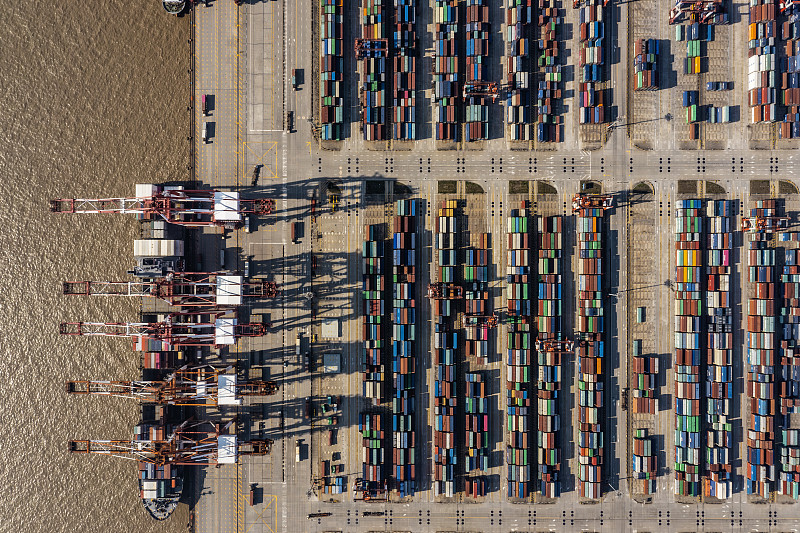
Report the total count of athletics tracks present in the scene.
0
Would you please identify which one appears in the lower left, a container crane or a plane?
container crane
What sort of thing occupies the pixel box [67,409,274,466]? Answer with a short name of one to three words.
container crane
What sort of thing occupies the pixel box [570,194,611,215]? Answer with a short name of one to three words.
crane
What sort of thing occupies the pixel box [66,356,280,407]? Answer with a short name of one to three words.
container crane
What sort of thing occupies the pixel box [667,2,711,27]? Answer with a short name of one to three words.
crane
